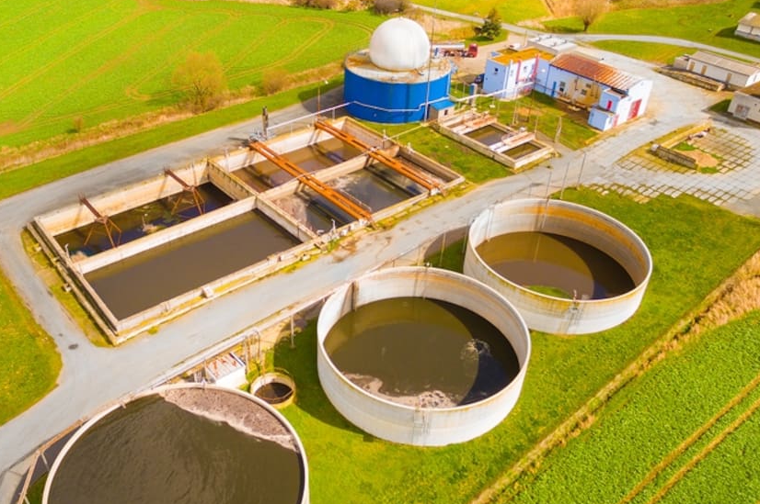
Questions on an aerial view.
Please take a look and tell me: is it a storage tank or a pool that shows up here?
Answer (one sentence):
I can see a storage tank in this picture.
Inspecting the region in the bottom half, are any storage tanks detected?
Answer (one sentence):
Yes, a storage tank can be seen in the bottom half.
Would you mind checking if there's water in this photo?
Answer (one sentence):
Yes, water can be seen from above here.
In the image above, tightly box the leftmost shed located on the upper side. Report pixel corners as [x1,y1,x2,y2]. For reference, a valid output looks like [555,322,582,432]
[430,100,453,122]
